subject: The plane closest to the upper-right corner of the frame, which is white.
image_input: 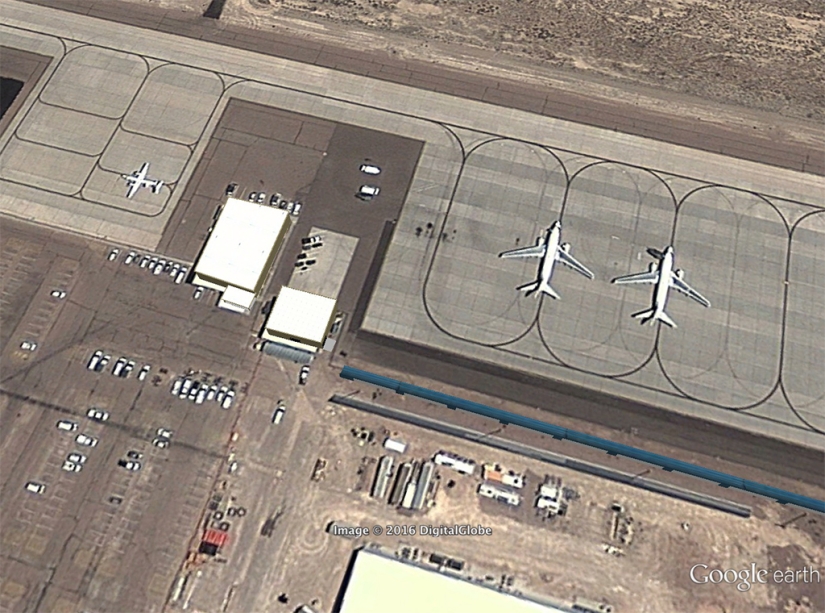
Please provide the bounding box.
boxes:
[616,246,714,329]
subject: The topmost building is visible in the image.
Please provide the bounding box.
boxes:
[193,197,293,302]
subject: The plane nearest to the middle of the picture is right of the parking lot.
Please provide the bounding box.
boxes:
[500,219,595,300]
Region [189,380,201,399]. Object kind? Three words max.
vehicle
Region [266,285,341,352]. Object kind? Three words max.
building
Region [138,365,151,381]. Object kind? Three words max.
vehicle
